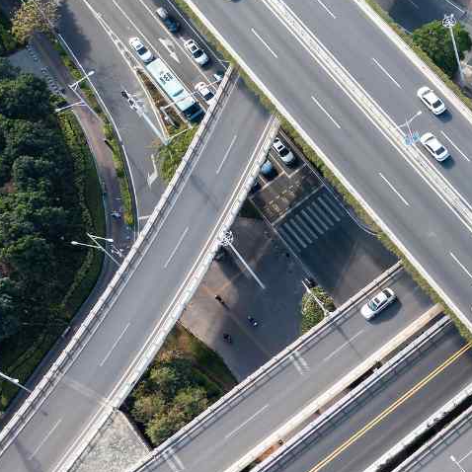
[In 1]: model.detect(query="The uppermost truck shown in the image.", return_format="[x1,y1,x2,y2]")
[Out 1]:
[154,7,180,34]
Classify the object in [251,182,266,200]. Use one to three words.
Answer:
car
